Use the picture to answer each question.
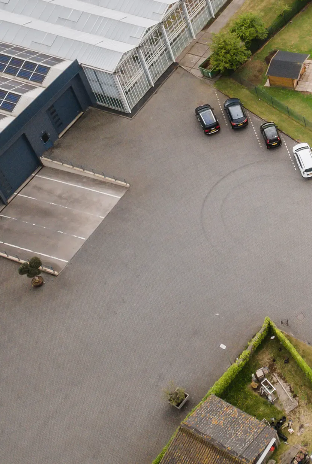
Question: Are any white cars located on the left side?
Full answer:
No, the scene shows no white car on the left side.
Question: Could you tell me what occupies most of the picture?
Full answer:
For the most part, this view shows paved ground.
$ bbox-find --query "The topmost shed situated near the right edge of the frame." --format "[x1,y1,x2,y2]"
[264,52,307,90]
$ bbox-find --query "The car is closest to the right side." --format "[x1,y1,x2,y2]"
[292,143,312,179]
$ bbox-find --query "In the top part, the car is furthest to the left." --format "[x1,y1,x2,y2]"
[193,103,220,136]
